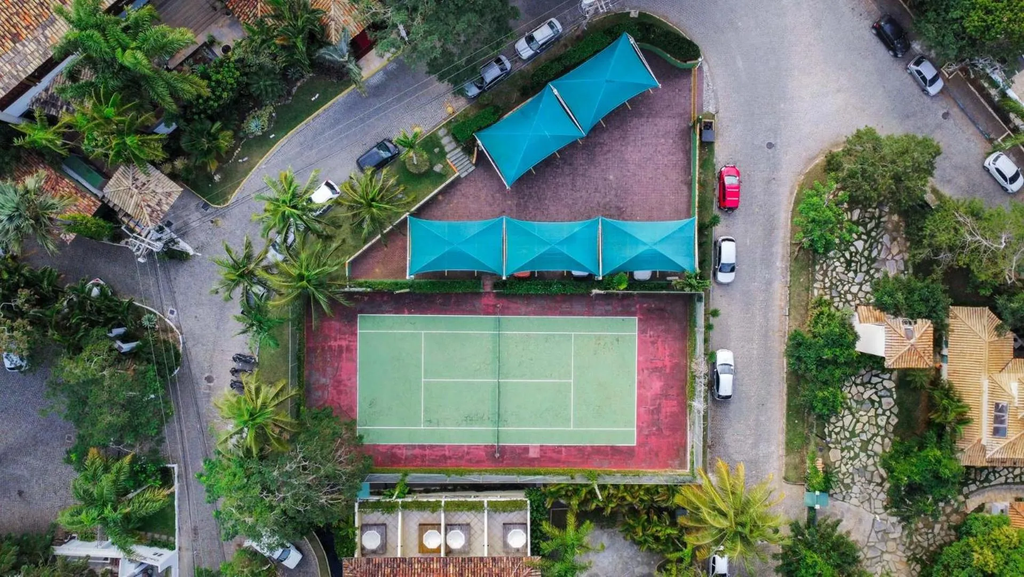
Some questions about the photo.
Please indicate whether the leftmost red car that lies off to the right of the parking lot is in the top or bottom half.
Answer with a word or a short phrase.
top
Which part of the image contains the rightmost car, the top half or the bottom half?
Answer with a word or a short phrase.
top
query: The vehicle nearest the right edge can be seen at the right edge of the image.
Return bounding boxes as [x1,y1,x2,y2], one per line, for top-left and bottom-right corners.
[979,149,1024,194]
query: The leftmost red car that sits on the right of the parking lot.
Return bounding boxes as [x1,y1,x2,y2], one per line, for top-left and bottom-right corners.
[716,165,743,212]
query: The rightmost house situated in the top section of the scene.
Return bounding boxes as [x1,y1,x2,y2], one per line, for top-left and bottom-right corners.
[983,58,1024,113]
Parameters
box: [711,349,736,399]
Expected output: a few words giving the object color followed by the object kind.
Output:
white car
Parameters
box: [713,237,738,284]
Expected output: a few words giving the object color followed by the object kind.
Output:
white car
